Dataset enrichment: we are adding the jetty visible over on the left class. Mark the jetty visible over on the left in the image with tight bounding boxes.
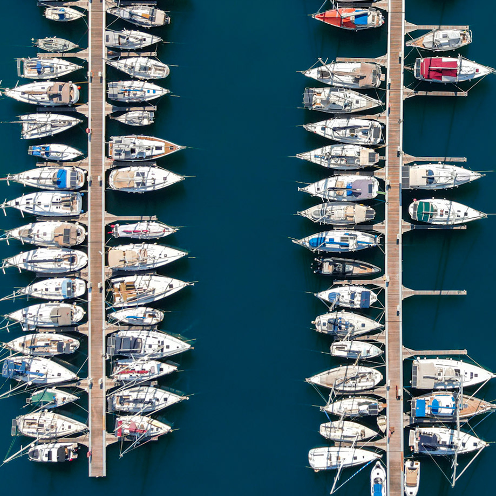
[35,0,159,477]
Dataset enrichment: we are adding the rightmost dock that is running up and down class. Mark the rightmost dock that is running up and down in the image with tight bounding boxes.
[332,0,469,496]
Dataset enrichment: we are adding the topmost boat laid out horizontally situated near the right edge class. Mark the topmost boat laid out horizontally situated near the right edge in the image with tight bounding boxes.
[404,28,481,53]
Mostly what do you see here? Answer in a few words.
water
